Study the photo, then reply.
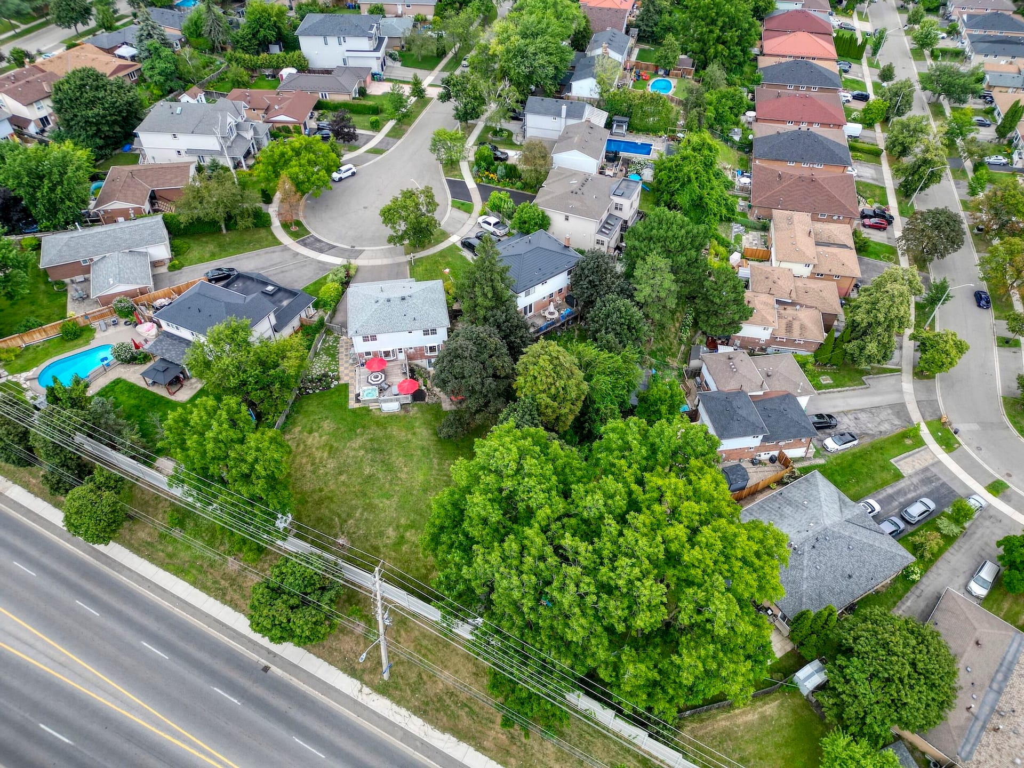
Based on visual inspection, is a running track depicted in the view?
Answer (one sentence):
No, the photo shows no running track.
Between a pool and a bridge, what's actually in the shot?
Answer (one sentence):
I can see a pool in this picture.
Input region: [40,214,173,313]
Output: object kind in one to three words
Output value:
house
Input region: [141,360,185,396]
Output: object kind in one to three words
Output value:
gazebo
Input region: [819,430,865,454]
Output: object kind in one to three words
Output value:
car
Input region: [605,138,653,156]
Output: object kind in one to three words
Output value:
swimming pool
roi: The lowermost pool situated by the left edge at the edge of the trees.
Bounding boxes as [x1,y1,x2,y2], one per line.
[35,342,117,390]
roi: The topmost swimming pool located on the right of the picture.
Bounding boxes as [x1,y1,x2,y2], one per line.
[649,77,673,92]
